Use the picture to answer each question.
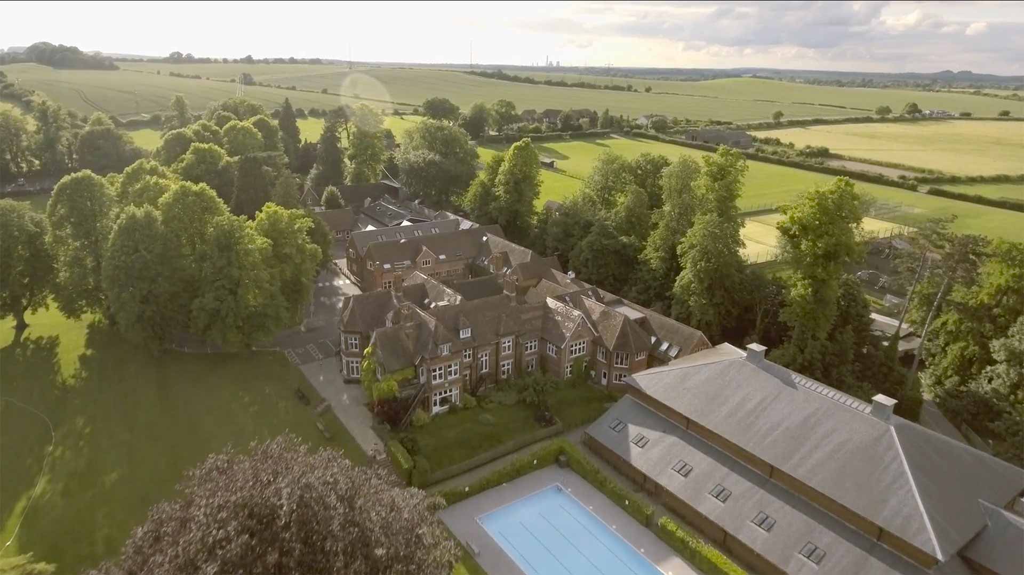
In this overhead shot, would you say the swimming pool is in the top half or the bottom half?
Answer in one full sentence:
It is in the bottom half that the swimming pool appears.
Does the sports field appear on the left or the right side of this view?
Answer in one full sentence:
The sports field is on the right side of the image.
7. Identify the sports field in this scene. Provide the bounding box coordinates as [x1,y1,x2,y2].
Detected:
[473,135,1024,251]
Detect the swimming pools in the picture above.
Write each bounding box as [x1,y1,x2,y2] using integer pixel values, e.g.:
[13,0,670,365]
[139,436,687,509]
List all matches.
[471,477,668,575]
